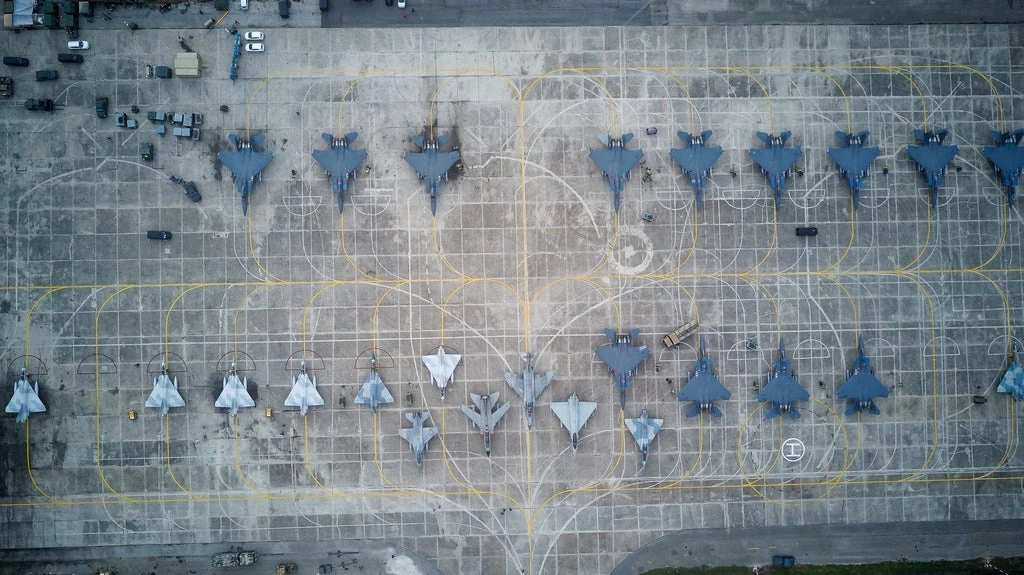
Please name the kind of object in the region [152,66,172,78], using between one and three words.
vehicle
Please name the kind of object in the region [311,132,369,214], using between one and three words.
airplane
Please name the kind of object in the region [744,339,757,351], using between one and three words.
vehicle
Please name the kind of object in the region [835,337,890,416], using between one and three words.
airplane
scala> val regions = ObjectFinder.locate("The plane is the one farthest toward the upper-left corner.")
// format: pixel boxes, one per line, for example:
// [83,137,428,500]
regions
[217,134,275,216]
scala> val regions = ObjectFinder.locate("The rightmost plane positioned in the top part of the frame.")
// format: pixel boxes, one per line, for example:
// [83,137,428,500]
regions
[982,126,1024,205]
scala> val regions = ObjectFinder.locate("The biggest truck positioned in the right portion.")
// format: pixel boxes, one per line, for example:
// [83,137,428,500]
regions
[662,319,700,349]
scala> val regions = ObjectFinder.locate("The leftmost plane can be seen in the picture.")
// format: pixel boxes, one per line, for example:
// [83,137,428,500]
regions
[5,363,46,425]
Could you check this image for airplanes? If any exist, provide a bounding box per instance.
[396,412,439,474]
[906,128,961,207]
[624,410,663,476]
[669,130,725,210]
[503,352,553,432]
[676,338,732,419]
[284,356,324,416]
[404,133,461,213]
[835,337,890,416]
[550,395,596,455]
[595,329,651,410]
[461,391,510,458]
[982,126,1024,205]
[749,129,805,209]
[5,363,46,425]
[756,339,811,419]
[145,357,186,418]
[217,134,275,216]
[215,356,255,417]
[311,132,369,214]
[827,129,883,209]
[421,346,460,411]
[354,351,394,412]
[588,131,644,211]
